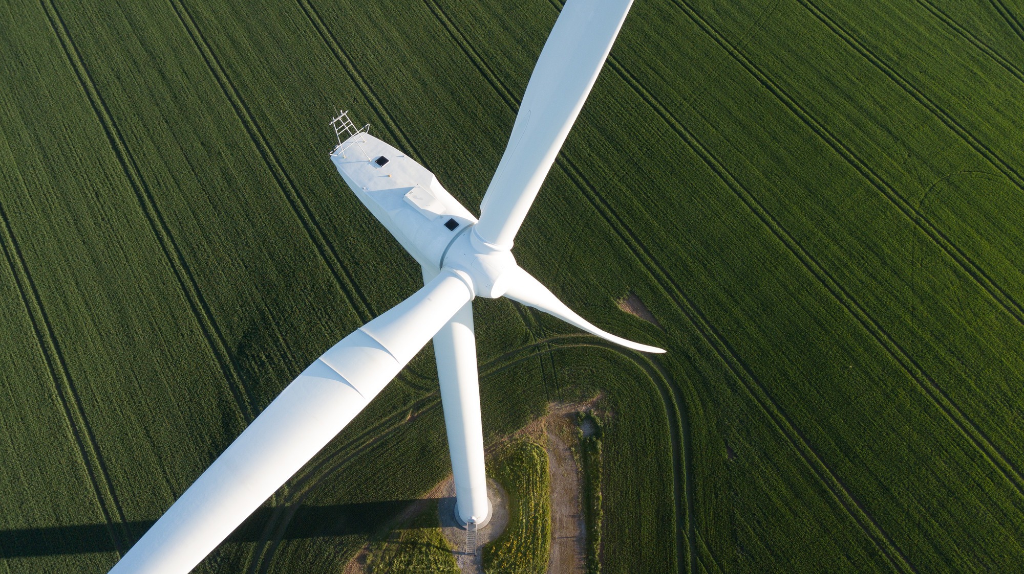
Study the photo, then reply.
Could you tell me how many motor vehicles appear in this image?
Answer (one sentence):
I count no motor vehicles.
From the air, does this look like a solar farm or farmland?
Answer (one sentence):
It's farmland.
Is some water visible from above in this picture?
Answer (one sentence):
No, water can't be seen anywhere here.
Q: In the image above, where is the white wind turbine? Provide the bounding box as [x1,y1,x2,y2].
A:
[113,0,666,574]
